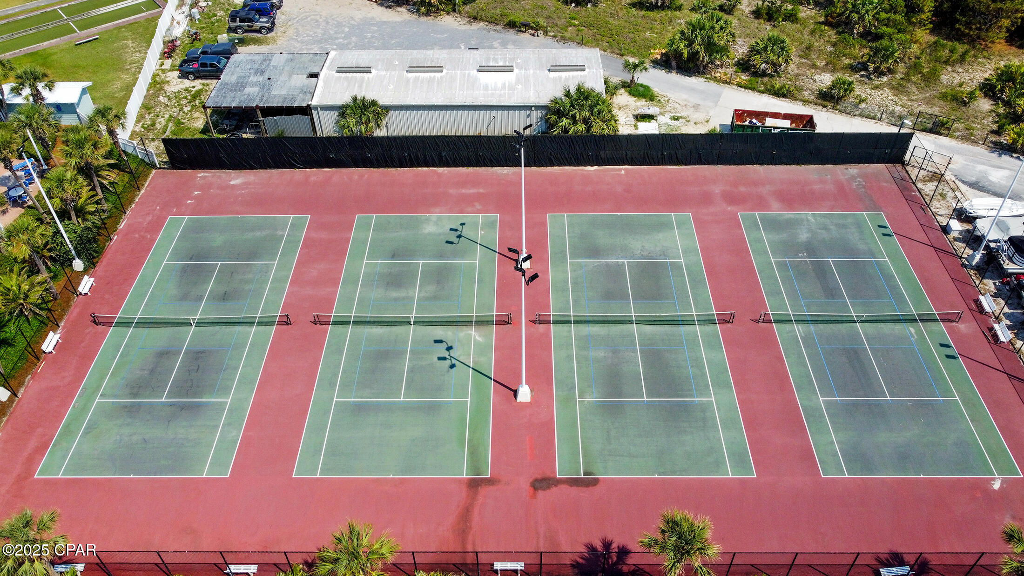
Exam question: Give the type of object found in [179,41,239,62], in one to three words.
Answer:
truck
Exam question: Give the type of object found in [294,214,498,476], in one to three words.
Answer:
tennis court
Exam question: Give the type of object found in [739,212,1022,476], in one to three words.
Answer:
tennis court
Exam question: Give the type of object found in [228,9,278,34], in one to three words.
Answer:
car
